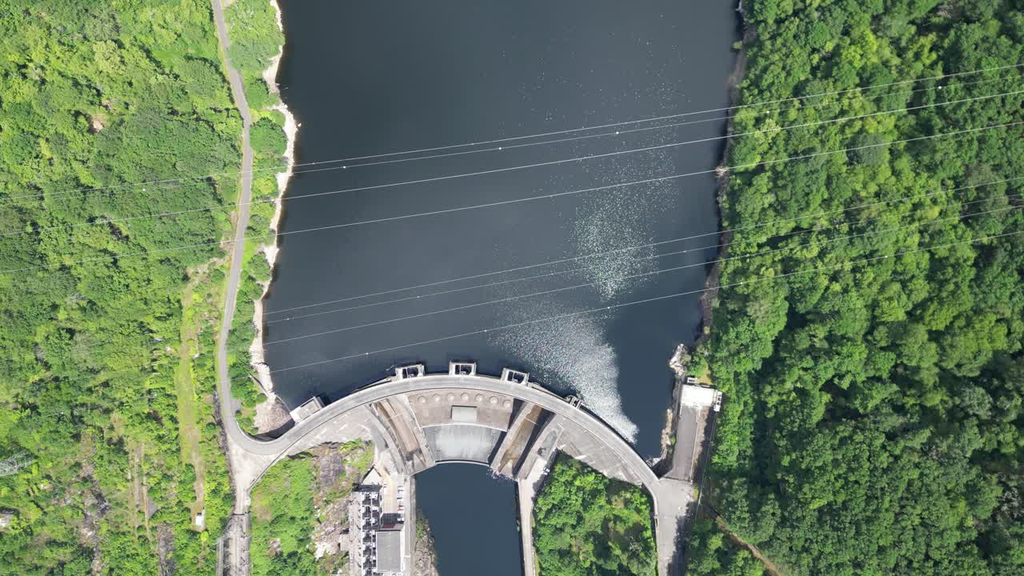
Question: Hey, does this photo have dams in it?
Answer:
Yes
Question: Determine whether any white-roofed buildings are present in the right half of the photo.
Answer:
Yes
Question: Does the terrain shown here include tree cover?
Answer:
Yes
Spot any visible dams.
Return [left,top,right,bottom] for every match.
[256,363,658,492]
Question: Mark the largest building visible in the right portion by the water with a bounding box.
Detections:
[678,383,714,408]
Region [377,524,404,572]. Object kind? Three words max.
building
